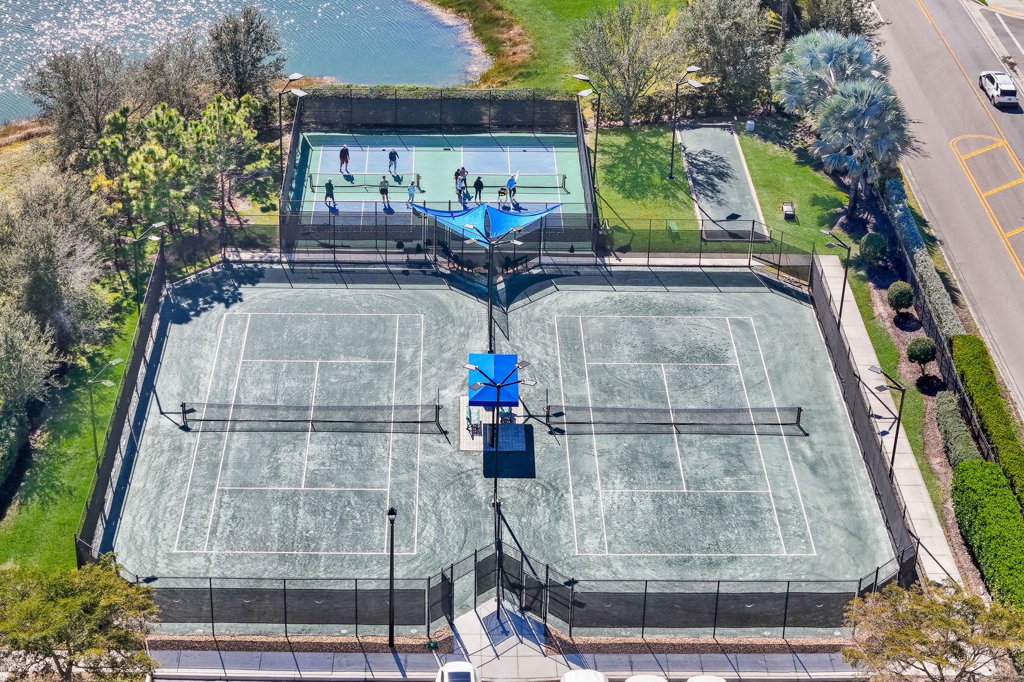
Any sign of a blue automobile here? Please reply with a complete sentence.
No, the scene contains no blue automobile.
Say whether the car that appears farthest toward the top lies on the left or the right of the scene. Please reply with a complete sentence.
You can find the car that appears farthest toward the top on the right side of the picture.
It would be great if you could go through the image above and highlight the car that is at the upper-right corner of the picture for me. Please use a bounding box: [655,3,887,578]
[979,67,1020,99]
